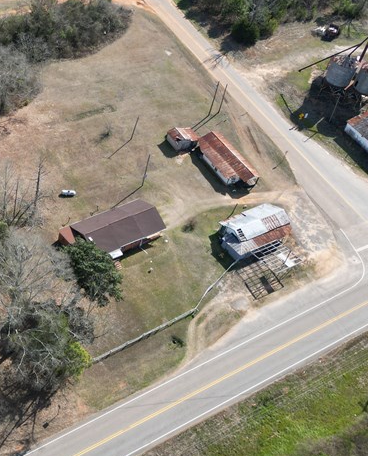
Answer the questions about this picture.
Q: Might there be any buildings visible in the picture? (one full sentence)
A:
Yes, you can see a building in this photo.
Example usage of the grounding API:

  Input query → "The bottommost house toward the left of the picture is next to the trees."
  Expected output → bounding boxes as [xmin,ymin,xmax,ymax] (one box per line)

[63,198,169,261]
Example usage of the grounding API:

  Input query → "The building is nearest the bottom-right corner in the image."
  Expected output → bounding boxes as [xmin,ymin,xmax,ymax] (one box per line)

[204,208,305,283]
